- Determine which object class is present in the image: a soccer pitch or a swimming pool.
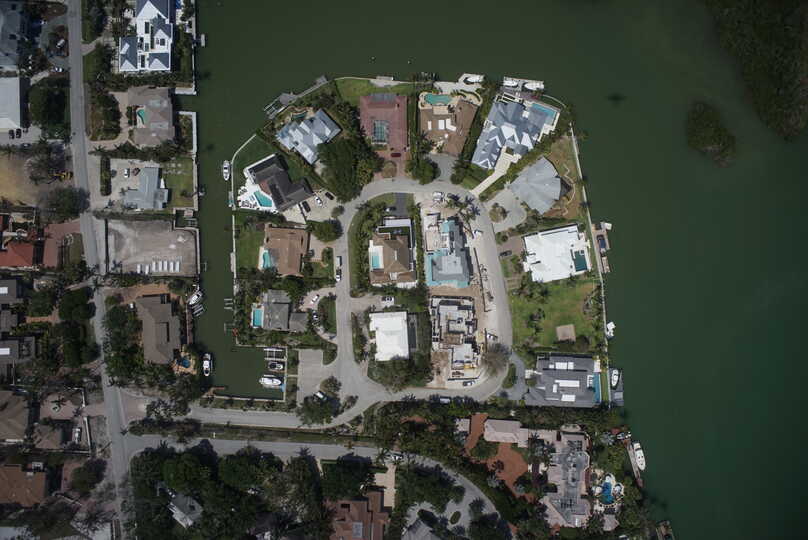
swimming pool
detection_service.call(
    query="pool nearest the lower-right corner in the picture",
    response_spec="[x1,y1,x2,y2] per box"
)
[599,482,615,504]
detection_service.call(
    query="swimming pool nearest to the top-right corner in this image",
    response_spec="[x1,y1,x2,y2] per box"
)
[532,103,556,125]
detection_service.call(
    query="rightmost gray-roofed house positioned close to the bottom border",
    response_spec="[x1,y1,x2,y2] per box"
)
[531,426,590,527]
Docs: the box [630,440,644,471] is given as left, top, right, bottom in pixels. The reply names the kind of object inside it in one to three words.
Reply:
boat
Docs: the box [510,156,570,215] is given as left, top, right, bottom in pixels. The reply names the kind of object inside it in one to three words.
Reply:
house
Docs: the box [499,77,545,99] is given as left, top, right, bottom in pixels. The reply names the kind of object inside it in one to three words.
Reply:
pier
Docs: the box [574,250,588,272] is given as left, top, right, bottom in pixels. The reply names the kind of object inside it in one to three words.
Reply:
swimming pool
